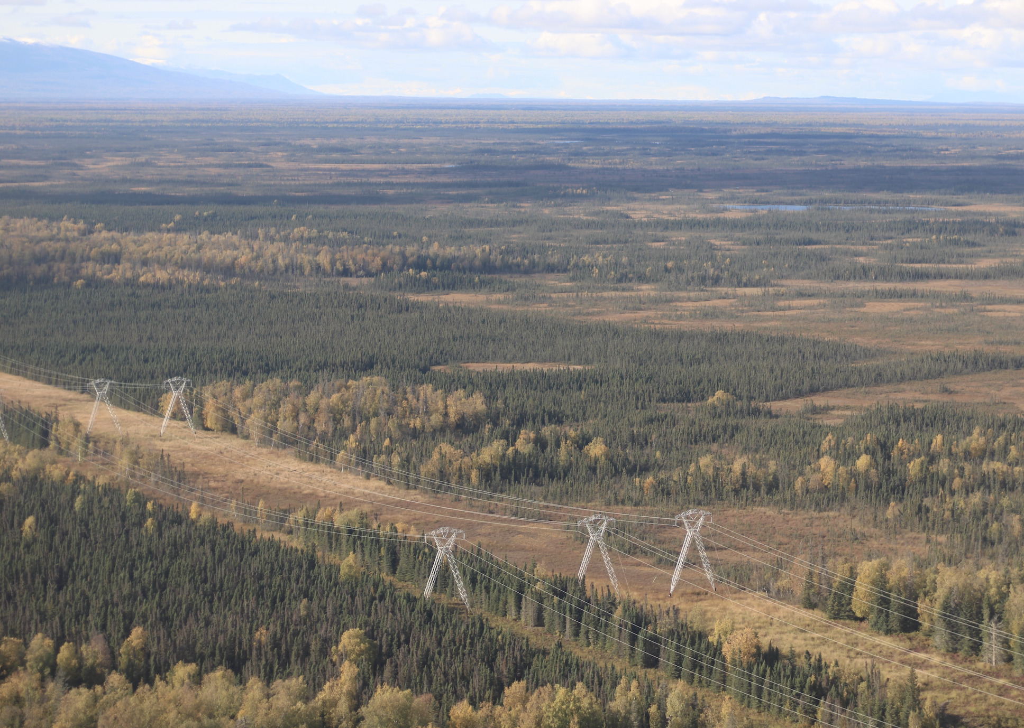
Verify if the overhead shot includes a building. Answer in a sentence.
No, there is no building in the image.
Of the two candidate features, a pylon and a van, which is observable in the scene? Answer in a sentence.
There is a pylon in the scene.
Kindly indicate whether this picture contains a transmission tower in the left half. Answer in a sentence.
Yes, there is a transmission tower in the left half.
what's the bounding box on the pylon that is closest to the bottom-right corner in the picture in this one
[669,508,728,595]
